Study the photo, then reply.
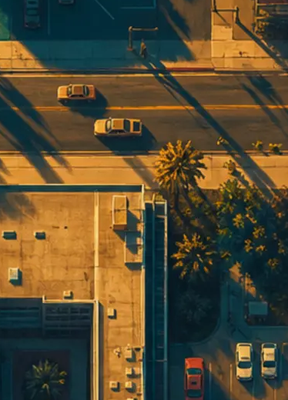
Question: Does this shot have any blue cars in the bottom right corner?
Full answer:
No, I can find no blue car in the bottom right corner.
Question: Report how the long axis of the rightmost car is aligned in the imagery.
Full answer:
From this overhead view, the rightmost car appears to run vertically.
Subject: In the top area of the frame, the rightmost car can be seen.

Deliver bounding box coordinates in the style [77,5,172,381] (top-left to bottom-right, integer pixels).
[94,118,143,137]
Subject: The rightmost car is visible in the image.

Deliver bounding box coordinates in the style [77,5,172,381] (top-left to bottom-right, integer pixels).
[259,343,280,381]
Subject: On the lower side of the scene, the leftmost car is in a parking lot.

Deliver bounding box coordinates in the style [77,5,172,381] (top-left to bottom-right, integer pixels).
[183,358,206,400]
